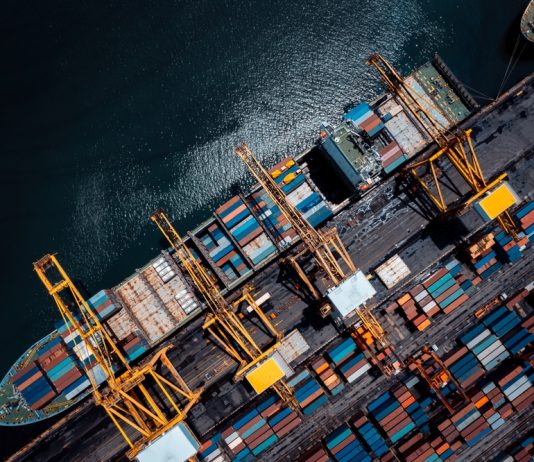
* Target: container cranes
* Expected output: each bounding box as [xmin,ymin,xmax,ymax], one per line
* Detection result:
[366,49,523,252]
[350,321,403,379]
[147,210,307,418]
[405,339,471,415]
[28,254,209,462]
[234,140,396,351]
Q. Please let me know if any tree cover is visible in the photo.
No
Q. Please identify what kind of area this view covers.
port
